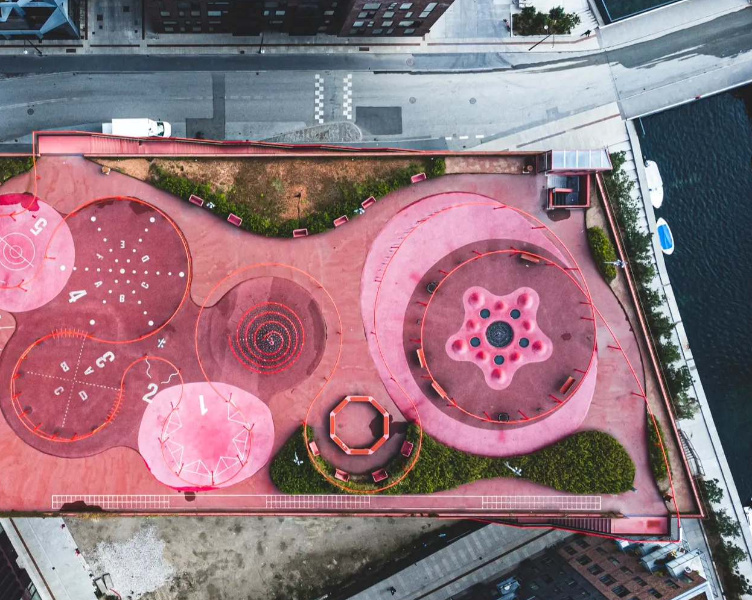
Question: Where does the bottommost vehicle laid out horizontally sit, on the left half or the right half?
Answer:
left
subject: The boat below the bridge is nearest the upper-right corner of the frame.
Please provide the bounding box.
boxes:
[645,159,663,208]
